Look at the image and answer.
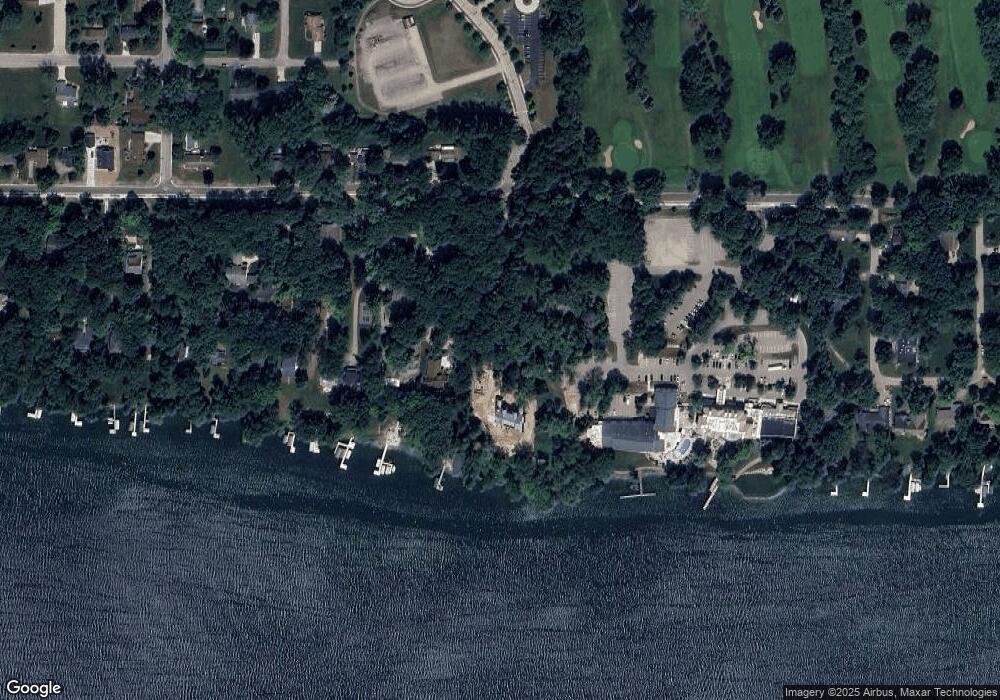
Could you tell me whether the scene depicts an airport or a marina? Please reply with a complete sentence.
It's a marina.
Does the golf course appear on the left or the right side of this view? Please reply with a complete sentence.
You can find the golf course on the right side of the picture.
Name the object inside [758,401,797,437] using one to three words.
building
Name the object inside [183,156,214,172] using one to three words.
house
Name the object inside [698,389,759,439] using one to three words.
building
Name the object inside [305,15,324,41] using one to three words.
house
